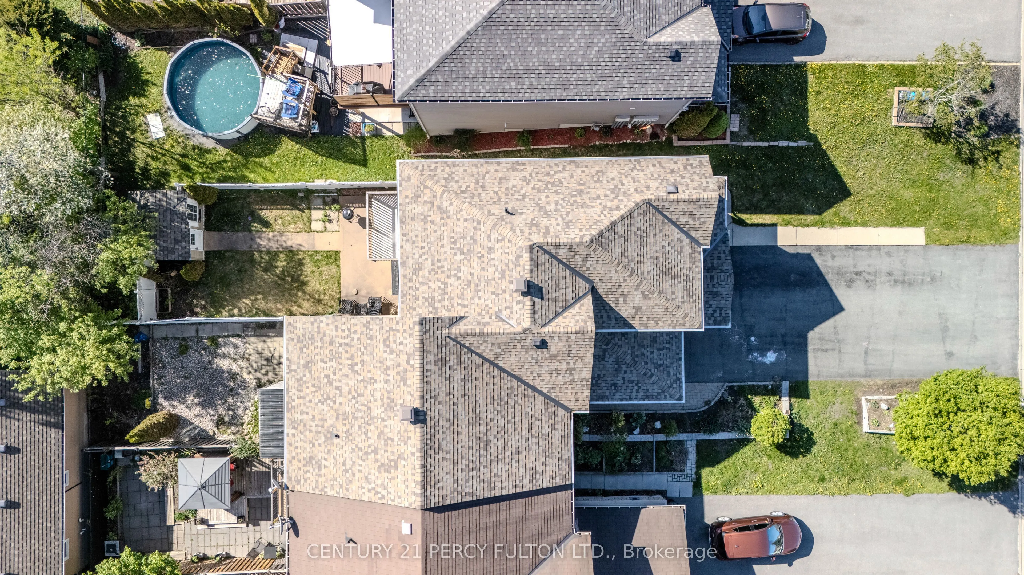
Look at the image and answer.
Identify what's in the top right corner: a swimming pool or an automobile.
automobile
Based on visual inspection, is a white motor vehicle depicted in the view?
No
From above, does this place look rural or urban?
urban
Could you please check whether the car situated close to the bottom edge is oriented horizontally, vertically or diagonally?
horizontally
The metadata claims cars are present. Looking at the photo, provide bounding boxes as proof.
[733,0,814,43]
[707,511,800,560]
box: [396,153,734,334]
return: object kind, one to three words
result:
house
